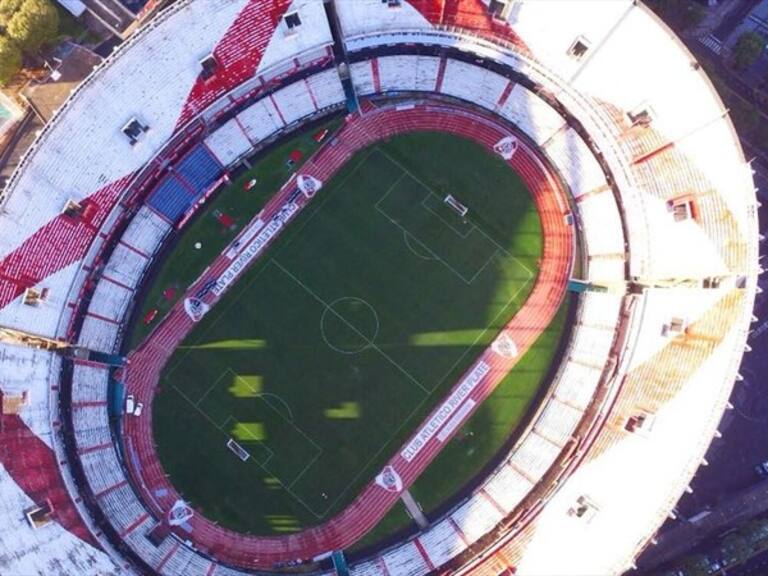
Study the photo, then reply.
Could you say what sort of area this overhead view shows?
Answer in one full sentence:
This looks like a sports ground.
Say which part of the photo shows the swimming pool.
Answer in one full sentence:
The swimming pool appears toward the top left of the photo.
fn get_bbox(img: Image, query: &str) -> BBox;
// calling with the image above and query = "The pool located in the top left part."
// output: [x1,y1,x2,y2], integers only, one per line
[0,91,23,135]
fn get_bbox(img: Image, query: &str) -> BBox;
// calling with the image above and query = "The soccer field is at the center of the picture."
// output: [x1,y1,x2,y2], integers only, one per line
[155,134,539,532]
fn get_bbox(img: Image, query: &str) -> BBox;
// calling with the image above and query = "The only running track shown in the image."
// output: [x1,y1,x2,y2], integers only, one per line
[121,104,573,569]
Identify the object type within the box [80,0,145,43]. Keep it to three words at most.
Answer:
house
